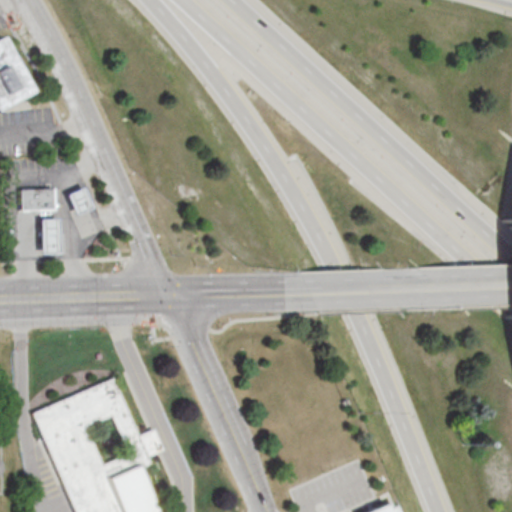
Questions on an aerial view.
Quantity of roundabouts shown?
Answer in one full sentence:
The count of roundabouts is 0.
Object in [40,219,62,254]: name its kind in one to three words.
shed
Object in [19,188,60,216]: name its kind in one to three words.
building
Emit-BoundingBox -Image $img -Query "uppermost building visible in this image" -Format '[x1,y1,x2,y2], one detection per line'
[0,36,40,110]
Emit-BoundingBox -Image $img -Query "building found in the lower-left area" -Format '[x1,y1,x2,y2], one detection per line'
[30,378,173,512]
